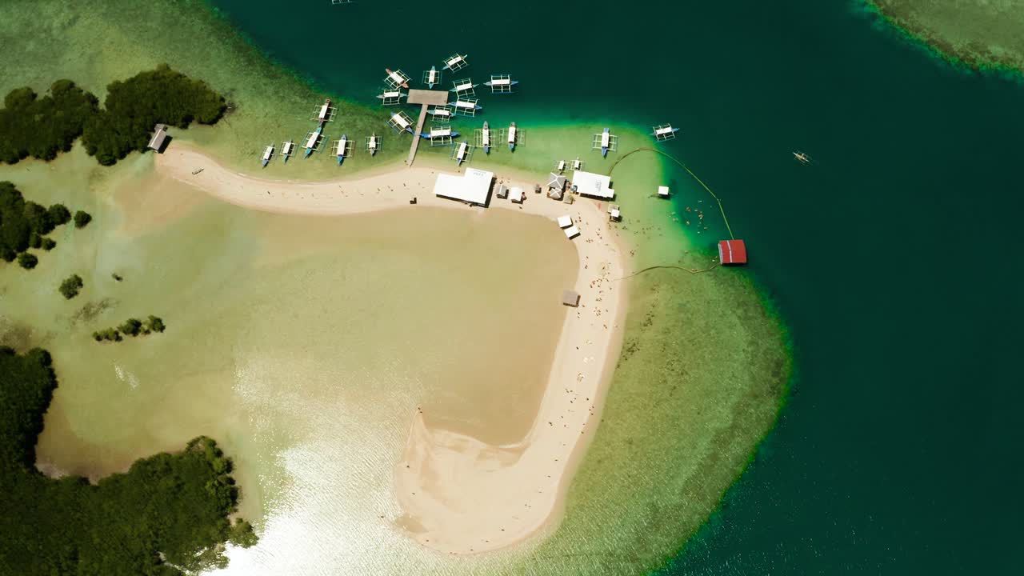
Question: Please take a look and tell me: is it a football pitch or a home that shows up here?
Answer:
home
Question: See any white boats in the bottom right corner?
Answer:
No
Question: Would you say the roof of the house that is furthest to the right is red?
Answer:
Yes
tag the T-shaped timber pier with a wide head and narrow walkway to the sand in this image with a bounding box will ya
[407,89,449,166]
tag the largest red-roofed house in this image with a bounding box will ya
[716,238,747,269]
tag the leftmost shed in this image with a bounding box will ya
[146,127,178,155]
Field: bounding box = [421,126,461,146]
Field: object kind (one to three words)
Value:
boat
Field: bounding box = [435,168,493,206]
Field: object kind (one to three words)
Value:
building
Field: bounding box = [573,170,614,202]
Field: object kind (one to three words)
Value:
building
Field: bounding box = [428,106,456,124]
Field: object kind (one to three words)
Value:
boat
